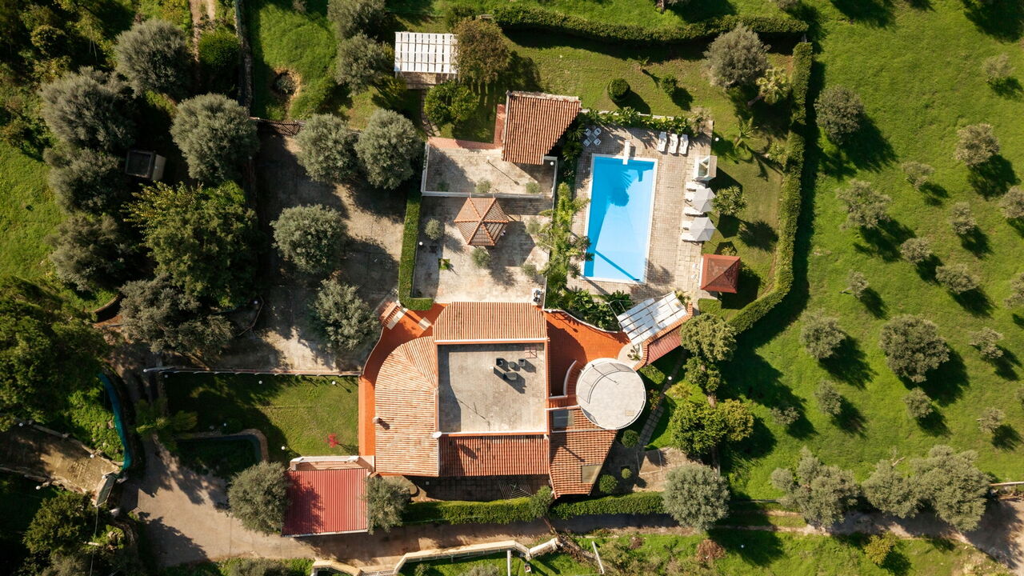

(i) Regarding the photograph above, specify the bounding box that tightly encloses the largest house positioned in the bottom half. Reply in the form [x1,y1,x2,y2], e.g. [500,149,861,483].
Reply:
[374,302,646,497]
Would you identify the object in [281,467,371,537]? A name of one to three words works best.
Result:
building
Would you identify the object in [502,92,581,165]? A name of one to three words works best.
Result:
shed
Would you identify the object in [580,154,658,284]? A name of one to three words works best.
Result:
swimming pool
